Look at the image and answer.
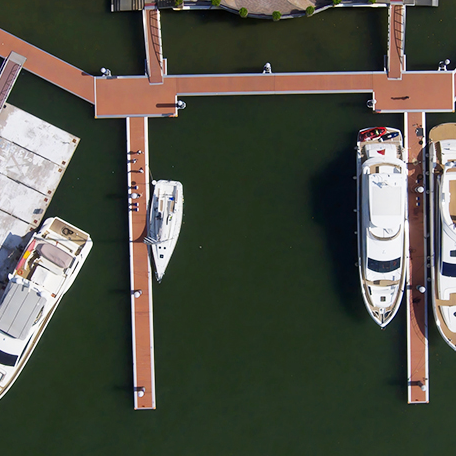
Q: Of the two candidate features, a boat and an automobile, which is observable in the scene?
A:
boat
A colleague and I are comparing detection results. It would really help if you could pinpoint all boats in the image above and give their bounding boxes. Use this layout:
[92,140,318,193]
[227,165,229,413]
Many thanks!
[144,180,183,283]
[0,218,92,395]
[360,126,388,143]
[356,126,408,331]
[428,123,456,351]
[379,131,399,143]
